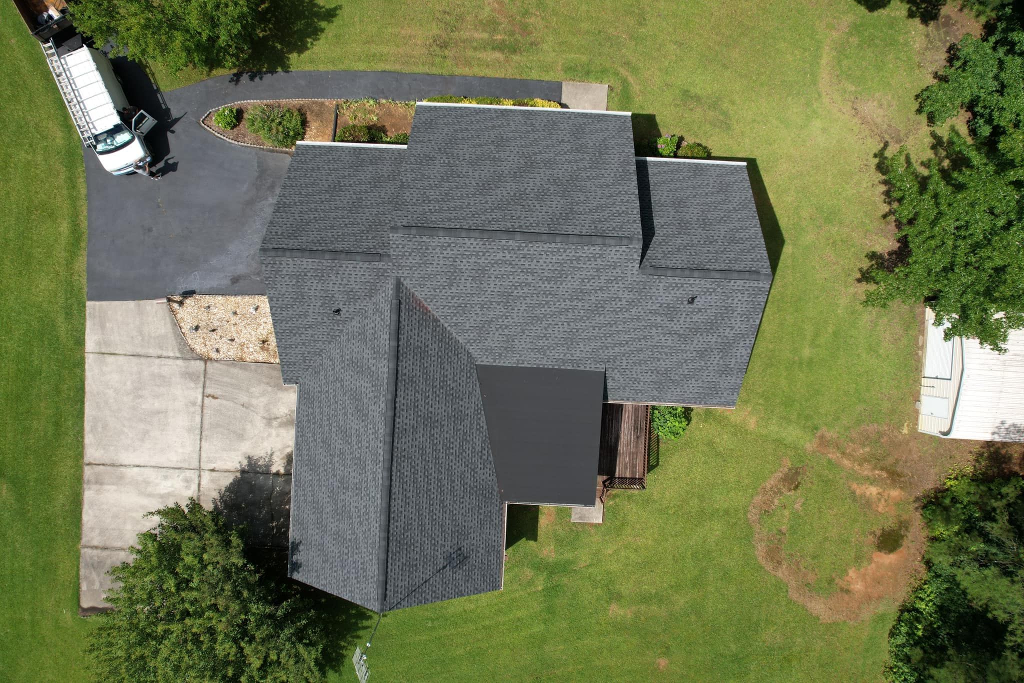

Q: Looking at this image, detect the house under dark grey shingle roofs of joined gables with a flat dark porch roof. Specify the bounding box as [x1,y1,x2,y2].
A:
[261,99,773,612]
